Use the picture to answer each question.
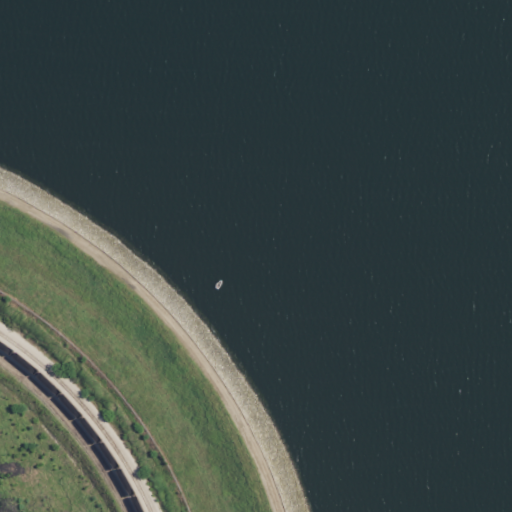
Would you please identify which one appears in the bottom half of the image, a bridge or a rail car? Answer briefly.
rail car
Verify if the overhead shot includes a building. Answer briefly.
No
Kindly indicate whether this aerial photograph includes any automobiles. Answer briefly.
No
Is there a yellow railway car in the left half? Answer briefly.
No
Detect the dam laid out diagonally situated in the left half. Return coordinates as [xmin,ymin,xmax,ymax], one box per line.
[0,164,314,512]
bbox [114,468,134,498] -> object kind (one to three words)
rail car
